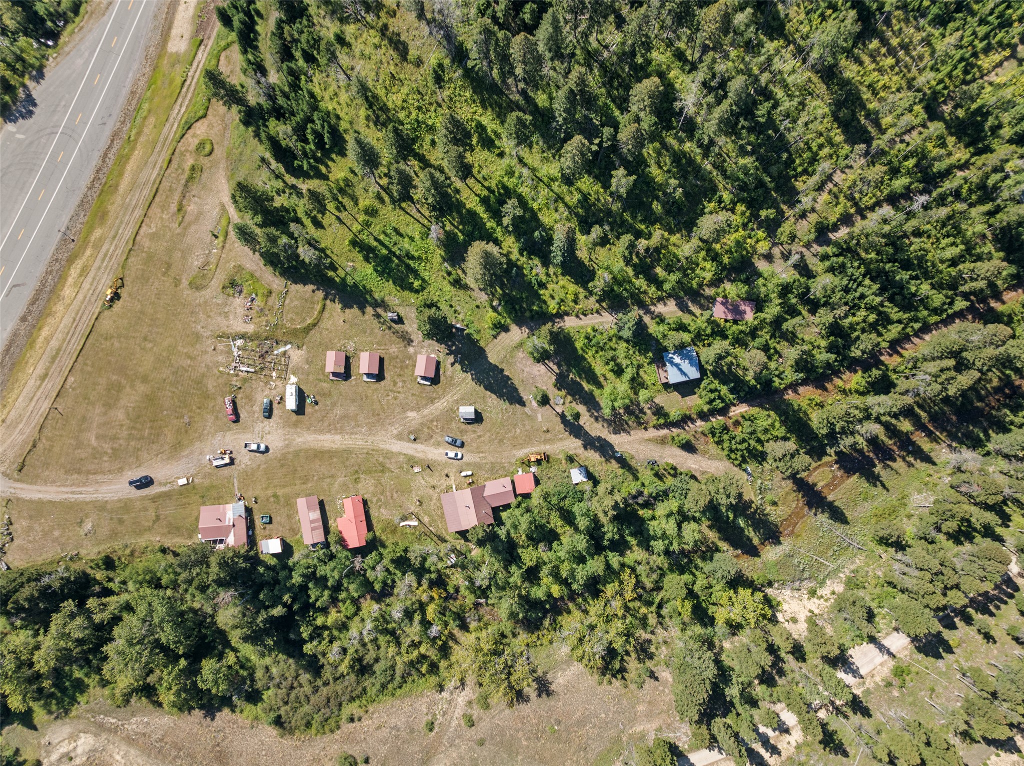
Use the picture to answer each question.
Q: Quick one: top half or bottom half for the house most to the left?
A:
bottom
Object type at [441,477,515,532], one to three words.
house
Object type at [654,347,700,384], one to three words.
building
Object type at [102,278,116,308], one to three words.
work vehicle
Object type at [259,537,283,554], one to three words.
shed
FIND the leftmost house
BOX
[199,503,250,548]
